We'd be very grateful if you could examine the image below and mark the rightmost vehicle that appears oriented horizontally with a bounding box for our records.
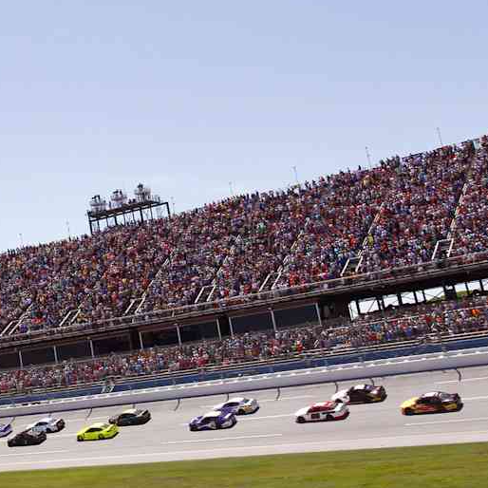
[402,392,461,415]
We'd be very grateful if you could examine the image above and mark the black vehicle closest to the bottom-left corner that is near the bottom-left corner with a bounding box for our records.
[9,430,47,447]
